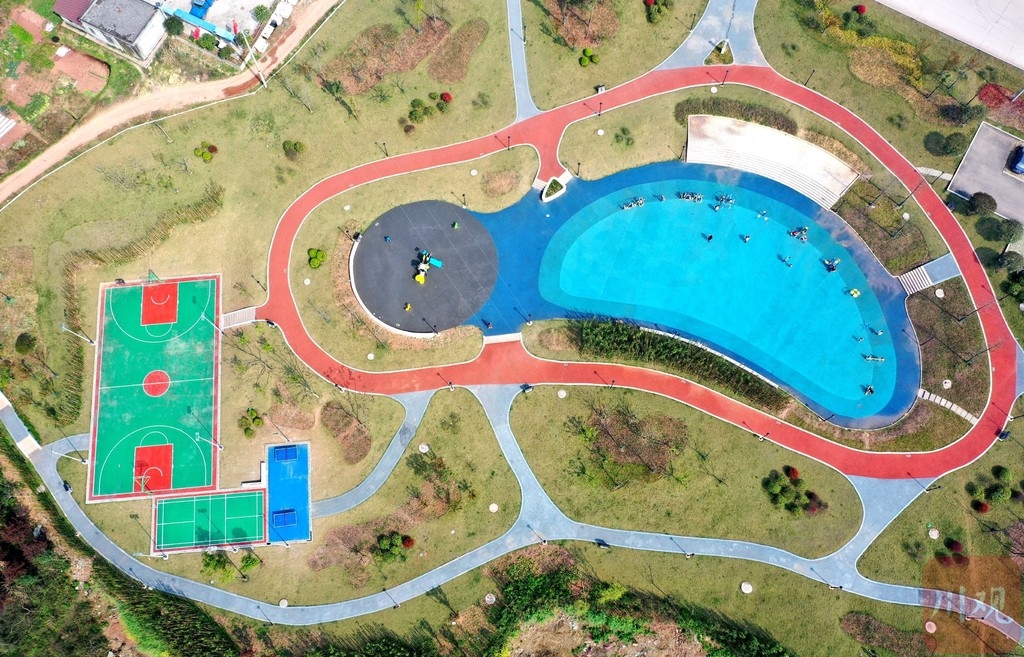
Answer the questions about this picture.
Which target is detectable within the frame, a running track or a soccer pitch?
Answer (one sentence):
The image shows a running track.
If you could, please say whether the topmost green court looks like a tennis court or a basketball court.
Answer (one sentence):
I'd say the topmost green court is a basketball court.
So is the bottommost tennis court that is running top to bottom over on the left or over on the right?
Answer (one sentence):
It is on the left.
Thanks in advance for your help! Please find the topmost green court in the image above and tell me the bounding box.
[86,273,221,503]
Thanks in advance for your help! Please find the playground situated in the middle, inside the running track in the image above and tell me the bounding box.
[353,200,528,333]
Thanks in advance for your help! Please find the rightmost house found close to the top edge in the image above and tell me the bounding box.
[79,0,165,56]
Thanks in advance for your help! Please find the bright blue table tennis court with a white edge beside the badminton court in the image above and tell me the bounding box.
[266,441,311,545]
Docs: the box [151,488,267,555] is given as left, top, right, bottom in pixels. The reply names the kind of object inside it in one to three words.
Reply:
sports court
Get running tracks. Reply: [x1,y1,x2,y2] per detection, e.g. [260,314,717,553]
[256,64,1017,479]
